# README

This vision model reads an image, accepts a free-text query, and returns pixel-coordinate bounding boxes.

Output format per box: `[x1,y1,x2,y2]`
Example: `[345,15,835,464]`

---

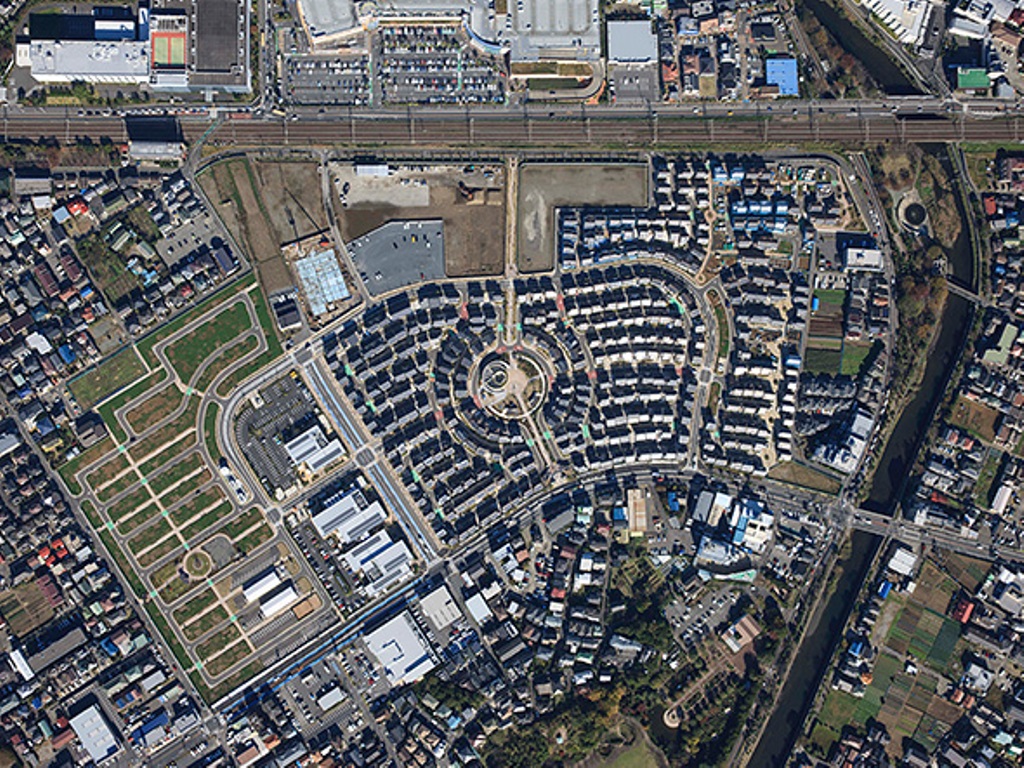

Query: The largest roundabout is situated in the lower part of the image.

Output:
[183,547,213,577]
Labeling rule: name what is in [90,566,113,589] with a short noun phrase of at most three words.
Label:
house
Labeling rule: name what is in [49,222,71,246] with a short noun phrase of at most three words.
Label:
house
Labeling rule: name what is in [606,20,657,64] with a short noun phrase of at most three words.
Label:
building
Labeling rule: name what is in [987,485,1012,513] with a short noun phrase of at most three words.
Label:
shed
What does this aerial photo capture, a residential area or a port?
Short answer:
residential area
